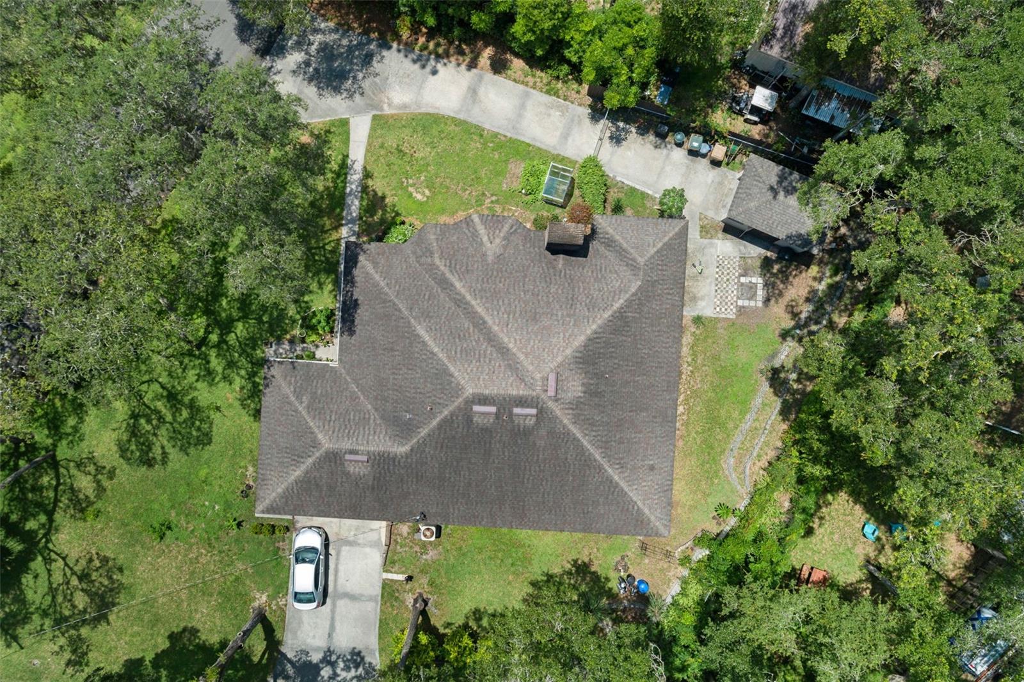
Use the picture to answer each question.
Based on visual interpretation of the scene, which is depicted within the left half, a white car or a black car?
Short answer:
white car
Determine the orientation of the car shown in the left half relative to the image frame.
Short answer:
from top to bottom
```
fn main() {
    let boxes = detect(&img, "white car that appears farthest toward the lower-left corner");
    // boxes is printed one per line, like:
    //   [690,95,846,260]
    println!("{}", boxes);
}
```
[288,524,329,611]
